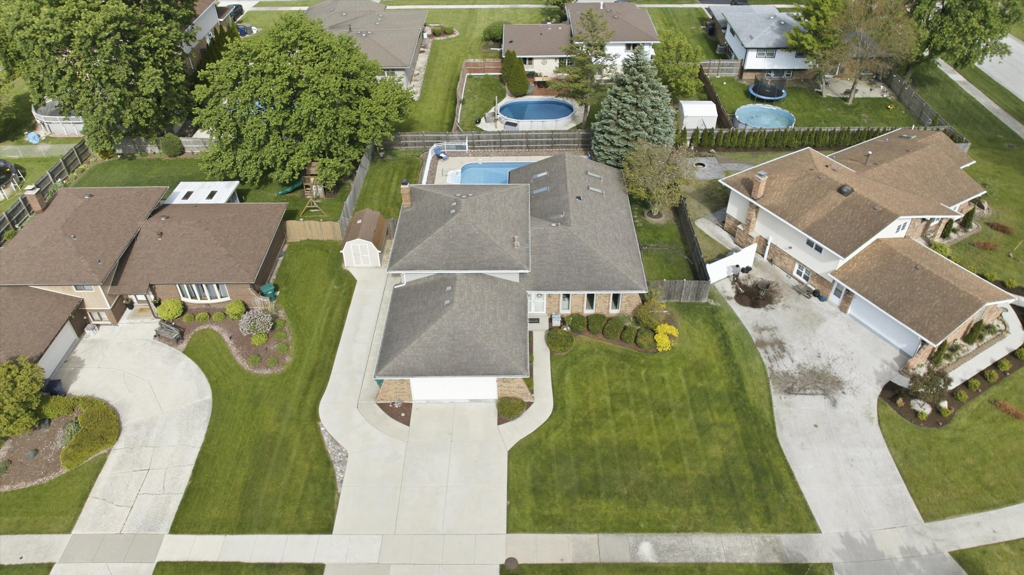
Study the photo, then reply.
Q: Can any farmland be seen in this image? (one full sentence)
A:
No, no farmland is visible.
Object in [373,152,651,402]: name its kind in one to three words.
house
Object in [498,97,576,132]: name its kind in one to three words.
swimming pool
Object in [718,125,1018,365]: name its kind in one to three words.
house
